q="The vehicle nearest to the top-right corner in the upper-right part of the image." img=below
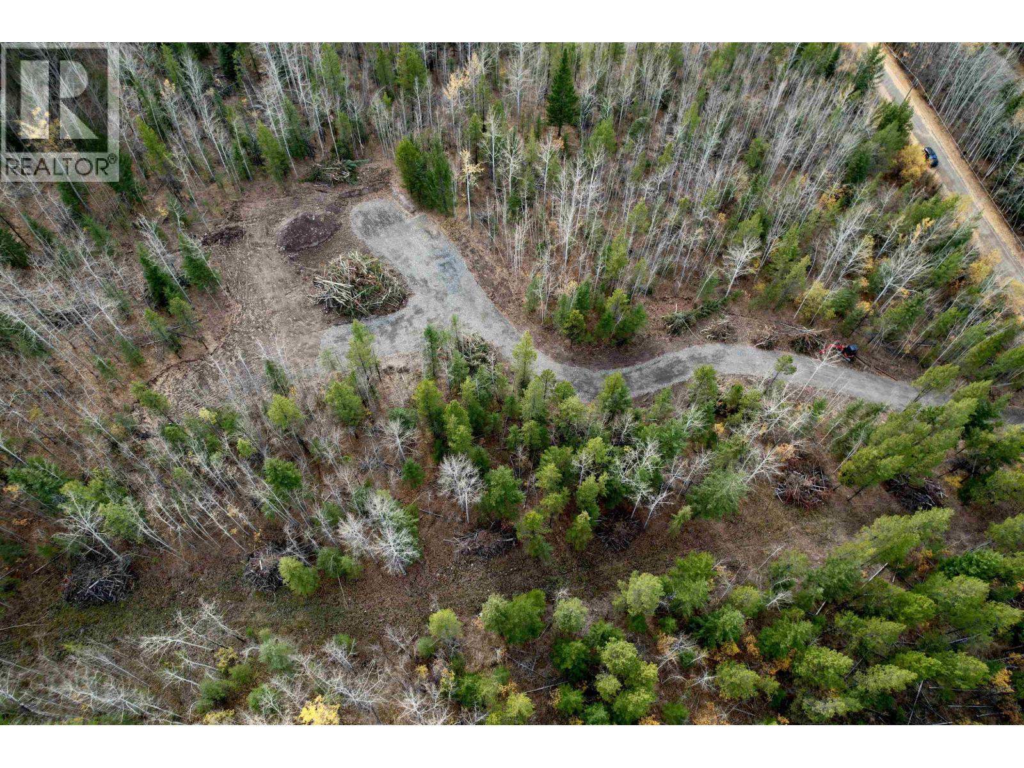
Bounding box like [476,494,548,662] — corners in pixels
[923,142,943,163]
